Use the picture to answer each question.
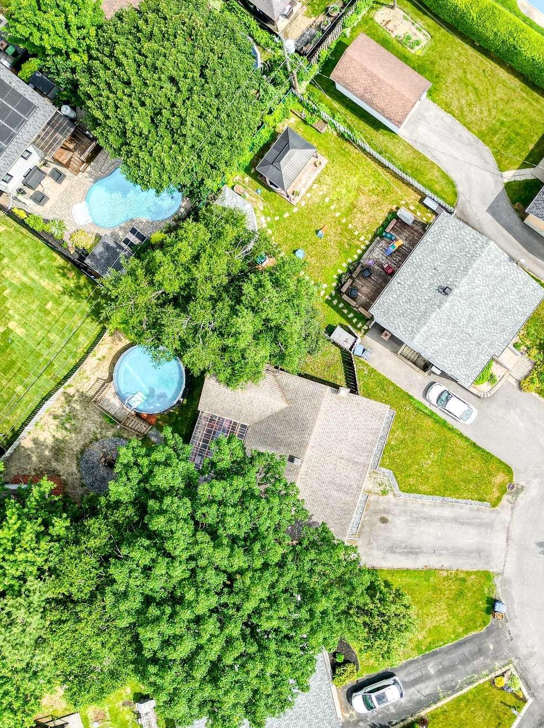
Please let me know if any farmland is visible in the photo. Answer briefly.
No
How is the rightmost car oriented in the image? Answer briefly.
at an angle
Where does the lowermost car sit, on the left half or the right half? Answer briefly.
right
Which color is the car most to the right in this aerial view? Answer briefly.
white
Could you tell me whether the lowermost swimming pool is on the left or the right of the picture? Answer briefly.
left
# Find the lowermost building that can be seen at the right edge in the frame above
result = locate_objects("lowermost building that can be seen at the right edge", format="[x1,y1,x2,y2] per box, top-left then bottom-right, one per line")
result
[368,210,544,389]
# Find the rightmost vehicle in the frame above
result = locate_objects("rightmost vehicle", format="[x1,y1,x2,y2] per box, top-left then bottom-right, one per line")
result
[423,379,480,426]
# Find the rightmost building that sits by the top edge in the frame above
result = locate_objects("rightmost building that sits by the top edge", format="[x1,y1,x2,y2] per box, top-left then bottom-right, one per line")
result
[329,33,432,137]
